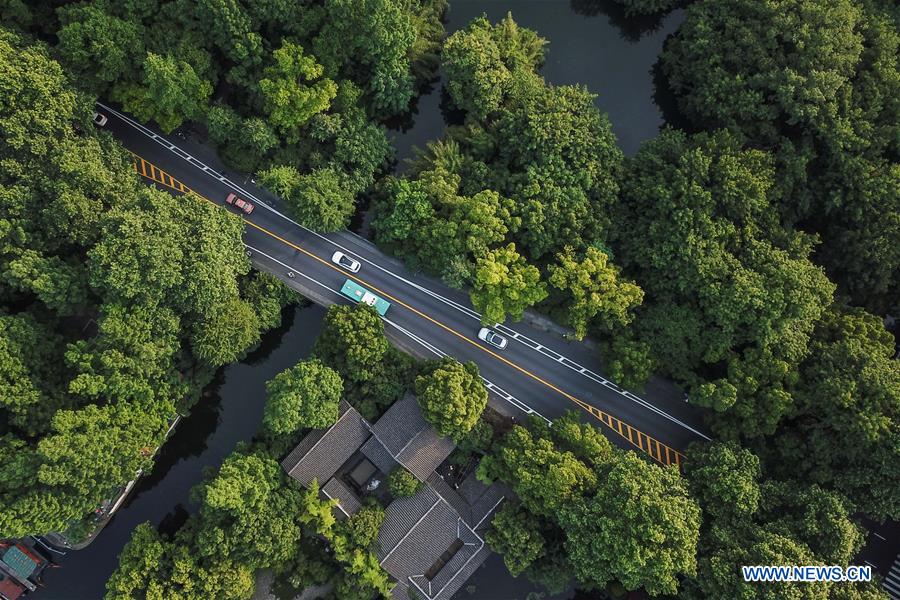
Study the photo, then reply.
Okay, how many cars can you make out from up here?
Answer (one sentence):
In total, there are 4 cars in the scene.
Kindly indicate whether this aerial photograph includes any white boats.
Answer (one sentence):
No, the frame has no white boat in it.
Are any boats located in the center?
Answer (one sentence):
No, there is no boat in the center.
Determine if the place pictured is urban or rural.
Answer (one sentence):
The land in this view is best described as rural.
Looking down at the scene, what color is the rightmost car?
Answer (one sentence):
The color of the rightmost car is white.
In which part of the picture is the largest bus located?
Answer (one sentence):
Look in the center portion of the view to spot the largest bus.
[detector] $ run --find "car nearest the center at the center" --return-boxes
[476,328,508,351]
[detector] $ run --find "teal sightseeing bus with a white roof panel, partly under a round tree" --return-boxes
[342,280,391,316]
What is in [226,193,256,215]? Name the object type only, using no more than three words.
car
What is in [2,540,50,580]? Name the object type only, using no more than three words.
boat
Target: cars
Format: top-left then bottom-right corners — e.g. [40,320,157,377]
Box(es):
[86,105,108,126]
[476,328,508,351]
[226,193,256,215]
[330,250,363,274]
